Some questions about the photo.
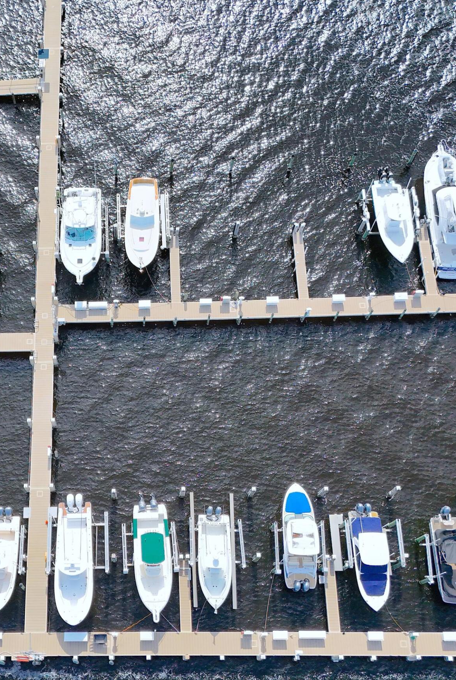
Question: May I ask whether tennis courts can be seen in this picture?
No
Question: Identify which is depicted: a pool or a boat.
boat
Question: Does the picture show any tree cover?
No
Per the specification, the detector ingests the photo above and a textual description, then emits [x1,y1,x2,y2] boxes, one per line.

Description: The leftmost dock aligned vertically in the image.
[24,0,62,633]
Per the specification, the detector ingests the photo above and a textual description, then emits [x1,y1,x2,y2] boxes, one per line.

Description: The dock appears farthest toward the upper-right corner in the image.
[420,226,437,294]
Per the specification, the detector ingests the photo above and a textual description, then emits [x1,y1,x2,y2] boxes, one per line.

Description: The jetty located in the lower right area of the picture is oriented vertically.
[325,559,341,632]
